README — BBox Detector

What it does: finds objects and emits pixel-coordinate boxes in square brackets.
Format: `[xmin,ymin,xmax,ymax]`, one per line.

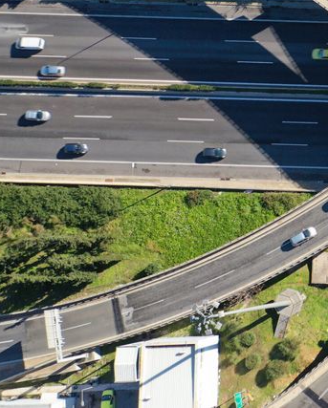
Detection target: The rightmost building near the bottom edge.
[139,332,233,408]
